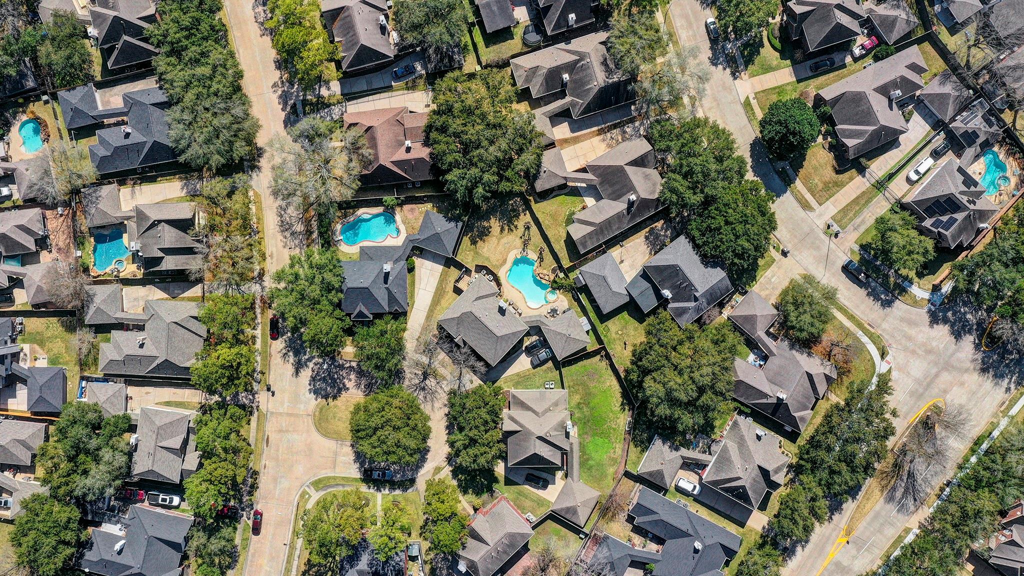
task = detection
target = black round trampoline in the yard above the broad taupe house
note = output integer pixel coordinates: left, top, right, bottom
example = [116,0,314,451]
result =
[523,21,544,44]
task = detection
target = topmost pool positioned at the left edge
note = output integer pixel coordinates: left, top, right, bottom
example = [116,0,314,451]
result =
[15,115,47,157]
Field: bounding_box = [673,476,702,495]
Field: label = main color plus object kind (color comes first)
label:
white car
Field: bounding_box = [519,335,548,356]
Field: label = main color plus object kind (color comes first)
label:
black car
